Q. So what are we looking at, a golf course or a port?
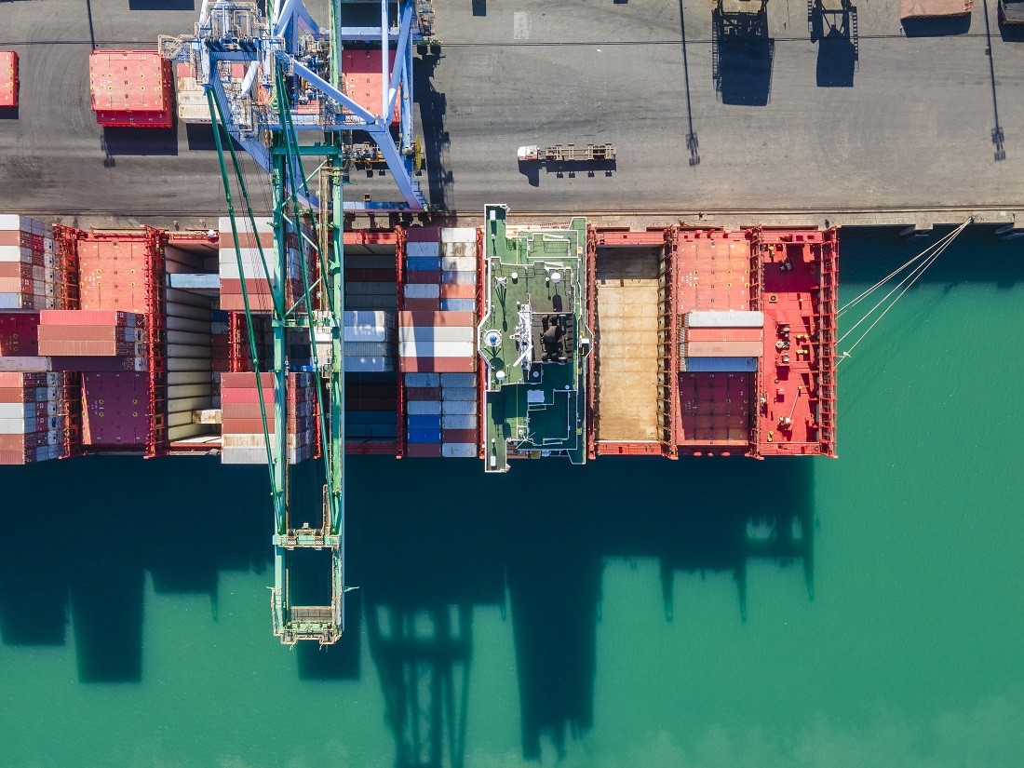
port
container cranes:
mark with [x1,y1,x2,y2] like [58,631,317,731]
[156,0,448,648]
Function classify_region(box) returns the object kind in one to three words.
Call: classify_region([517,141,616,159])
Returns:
vehicle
